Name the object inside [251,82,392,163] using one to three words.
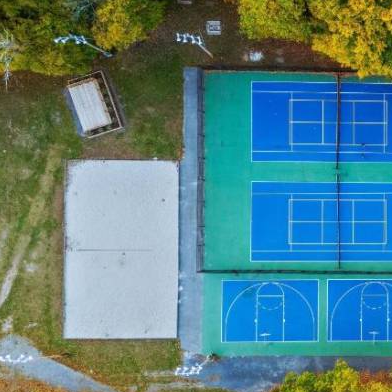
tennis court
